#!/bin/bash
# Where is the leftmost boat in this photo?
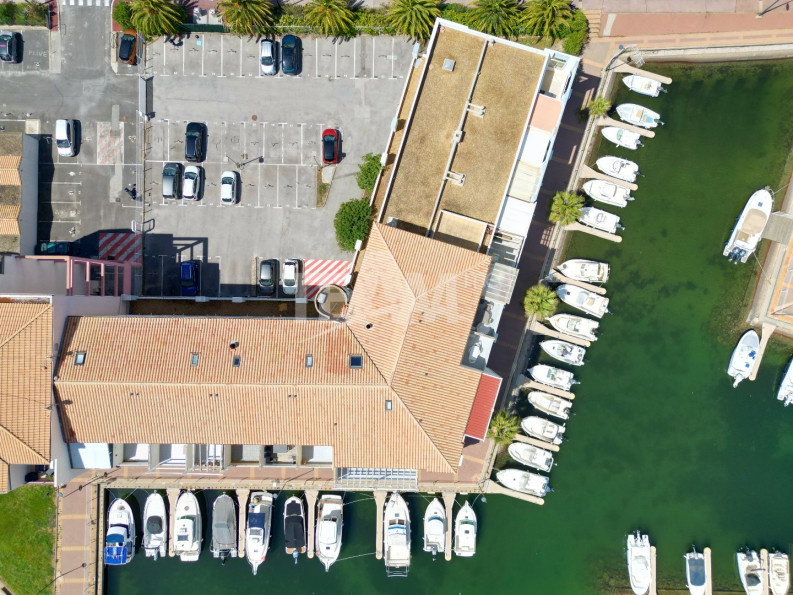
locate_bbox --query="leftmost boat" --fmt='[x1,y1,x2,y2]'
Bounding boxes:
[101,498,138,568]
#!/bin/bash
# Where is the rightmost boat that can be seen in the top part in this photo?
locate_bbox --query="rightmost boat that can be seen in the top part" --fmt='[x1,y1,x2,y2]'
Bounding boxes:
[719,183,775,268]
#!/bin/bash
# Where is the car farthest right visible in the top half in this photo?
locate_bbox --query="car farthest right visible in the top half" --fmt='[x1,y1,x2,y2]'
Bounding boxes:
[321,129,340,166]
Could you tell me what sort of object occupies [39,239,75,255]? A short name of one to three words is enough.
car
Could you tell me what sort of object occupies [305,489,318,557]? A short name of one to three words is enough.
pier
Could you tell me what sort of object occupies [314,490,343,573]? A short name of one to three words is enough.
boat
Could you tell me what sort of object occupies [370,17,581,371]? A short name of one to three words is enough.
building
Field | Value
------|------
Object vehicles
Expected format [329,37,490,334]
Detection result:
[257,259,276,297]
[39,239,75,255]
[281,36,300,77]
[180,262,201,296]
[259,39,276,78]
[281,259,299,296]
[118,30,140,67]
[0,32,19,65]
[54,119,77,156]
[160,163,182,201]
[122,184,135,199]
[321,129,340,166]
[184,122,205,163]
[182,166,202,201]
[220,170,239,206]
